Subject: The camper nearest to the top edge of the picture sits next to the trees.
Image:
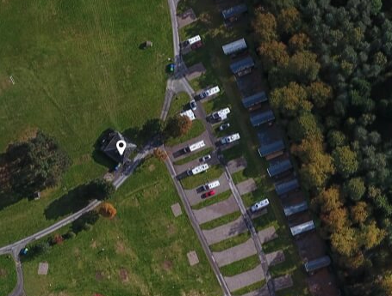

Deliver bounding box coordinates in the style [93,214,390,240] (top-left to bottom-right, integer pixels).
[221,2,248,20]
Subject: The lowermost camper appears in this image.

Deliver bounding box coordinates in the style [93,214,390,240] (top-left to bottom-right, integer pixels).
[305,257,328,272]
